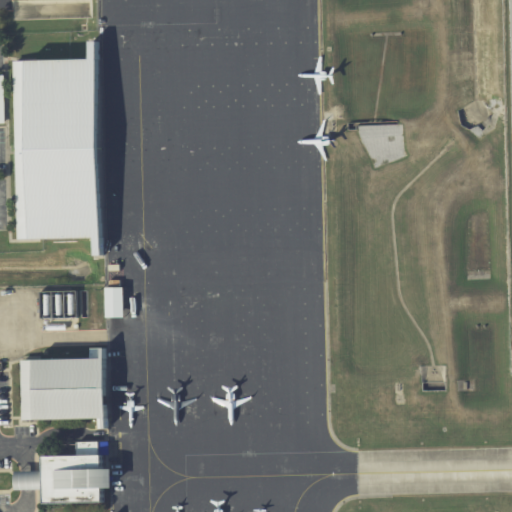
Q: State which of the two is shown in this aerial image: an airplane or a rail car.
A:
airplane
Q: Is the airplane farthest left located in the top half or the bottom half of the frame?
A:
bottom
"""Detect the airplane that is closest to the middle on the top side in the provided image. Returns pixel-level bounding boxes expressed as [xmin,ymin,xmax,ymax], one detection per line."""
[297,122,333,162]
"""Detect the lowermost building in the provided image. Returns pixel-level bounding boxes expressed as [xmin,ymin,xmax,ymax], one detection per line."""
[41,456,115,504]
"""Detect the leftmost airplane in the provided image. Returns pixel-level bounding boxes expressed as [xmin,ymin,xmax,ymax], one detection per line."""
[118,394,144,428]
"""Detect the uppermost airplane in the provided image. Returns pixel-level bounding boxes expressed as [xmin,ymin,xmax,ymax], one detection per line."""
[298,56,333,95]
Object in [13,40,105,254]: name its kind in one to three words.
hangar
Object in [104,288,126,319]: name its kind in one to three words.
shed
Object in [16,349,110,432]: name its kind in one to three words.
hangar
